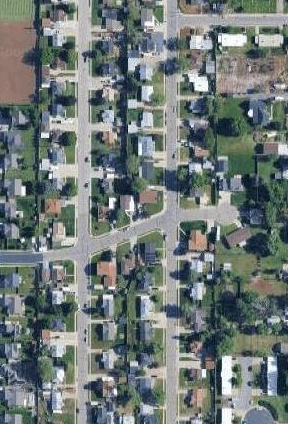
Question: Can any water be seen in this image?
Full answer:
No, the scene doesn't show any water.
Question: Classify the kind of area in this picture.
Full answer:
What you see here is a residential area.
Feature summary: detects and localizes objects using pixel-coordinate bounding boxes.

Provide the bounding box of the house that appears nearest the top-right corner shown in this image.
[259,33,283,46]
